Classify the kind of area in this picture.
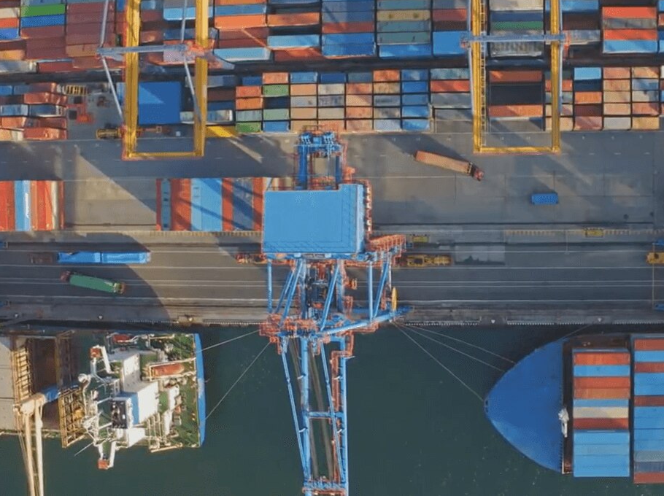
port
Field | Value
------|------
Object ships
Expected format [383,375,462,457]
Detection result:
[484,328,664,477]
[0,329,209,465]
